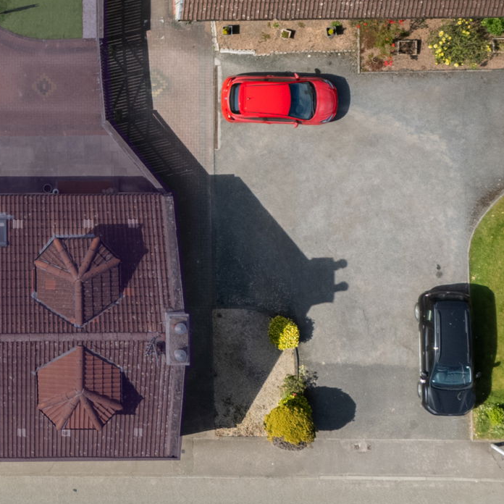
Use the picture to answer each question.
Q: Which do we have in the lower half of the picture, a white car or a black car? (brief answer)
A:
black car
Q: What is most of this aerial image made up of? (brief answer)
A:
paved ground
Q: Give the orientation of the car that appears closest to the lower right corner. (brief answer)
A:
vertically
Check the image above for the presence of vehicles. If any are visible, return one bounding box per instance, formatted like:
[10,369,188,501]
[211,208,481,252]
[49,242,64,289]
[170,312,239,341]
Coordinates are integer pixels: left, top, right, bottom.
[419,290,486,419]
[224,68,342,128]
